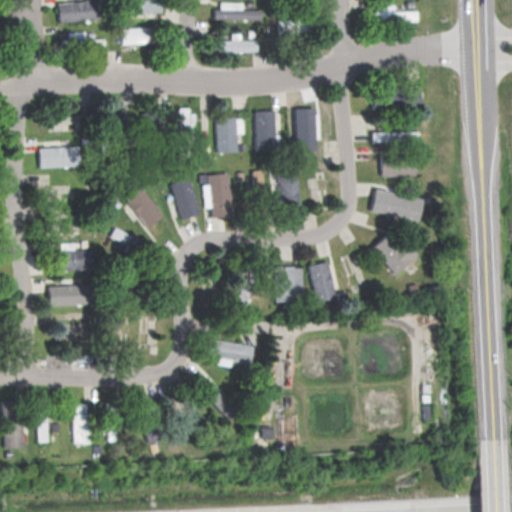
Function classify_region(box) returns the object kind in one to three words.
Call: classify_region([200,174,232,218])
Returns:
house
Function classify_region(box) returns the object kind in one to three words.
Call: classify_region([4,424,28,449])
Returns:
house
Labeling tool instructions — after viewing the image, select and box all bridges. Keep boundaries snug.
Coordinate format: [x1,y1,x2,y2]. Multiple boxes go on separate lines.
[478,440,511,512]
